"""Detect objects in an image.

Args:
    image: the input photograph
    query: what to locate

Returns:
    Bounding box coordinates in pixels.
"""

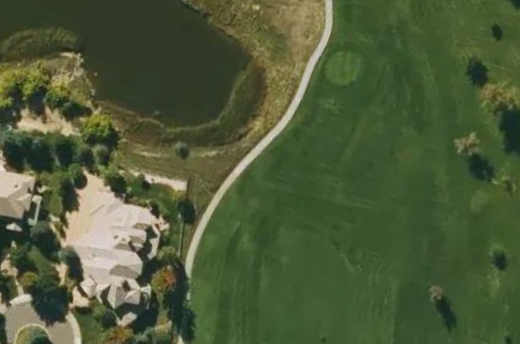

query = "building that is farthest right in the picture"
[76,197,156,328]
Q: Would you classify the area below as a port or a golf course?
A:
golf course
